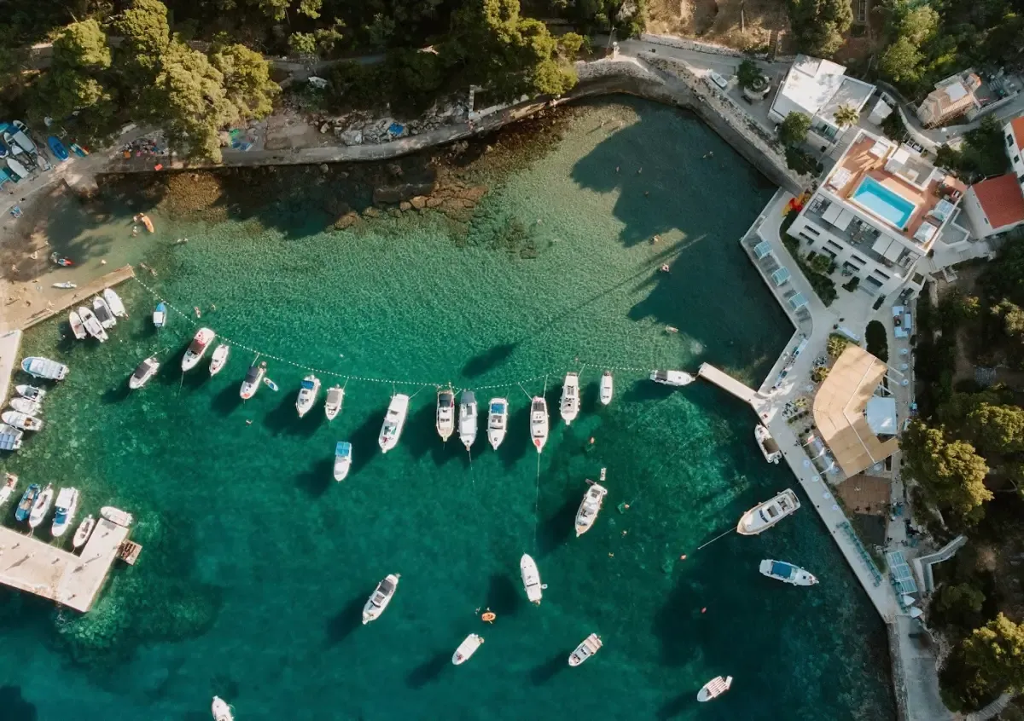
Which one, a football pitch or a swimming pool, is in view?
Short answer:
swimming pool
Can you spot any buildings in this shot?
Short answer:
Yes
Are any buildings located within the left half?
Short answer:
No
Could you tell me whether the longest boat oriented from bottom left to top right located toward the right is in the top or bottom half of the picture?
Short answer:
bottom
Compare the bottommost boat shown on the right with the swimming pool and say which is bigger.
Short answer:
the swimming pool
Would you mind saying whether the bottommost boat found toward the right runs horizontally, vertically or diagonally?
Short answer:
diagonally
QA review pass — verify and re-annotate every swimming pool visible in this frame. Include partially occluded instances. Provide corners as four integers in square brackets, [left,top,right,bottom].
[848,172,919,231]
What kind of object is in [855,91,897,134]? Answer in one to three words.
shed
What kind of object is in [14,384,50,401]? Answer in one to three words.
boat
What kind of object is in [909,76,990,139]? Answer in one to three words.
house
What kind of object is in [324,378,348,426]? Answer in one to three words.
boat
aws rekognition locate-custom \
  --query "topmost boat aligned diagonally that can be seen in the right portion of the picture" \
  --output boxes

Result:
[711,69,730,91]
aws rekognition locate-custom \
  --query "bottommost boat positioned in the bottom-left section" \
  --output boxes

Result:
[211,697,233,721]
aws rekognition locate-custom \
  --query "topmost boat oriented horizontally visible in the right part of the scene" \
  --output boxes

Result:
[641,369,699,386]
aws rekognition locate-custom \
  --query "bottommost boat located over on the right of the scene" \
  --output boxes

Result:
[698,674,726,701]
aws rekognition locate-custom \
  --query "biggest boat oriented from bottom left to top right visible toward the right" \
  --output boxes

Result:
[698,484,802,550]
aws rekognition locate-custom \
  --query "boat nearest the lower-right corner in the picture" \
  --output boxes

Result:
[758,558,821,587]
